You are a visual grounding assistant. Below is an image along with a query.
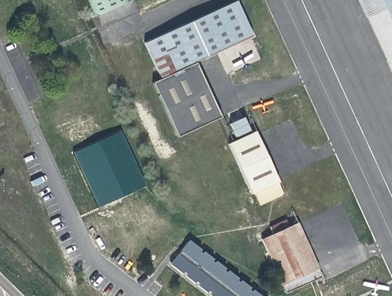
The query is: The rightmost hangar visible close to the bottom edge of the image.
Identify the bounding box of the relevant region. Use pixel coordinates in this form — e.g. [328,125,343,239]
[262,220,323,292]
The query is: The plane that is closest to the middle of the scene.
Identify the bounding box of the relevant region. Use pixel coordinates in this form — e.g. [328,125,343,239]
[252,100,274,114]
